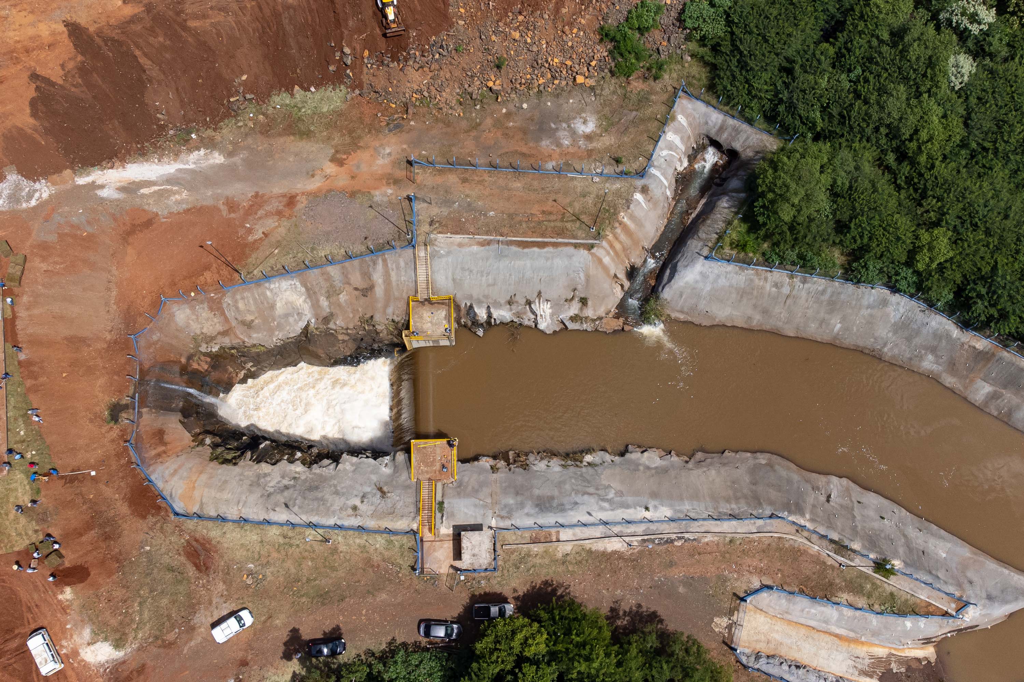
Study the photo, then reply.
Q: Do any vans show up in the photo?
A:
Yes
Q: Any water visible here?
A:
Yes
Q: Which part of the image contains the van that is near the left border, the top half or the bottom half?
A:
bottom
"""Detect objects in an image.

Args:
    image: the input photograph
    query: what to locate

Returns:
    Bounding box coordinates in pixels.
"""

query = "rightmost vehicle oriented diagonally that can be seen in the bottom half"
[210,608,257,646]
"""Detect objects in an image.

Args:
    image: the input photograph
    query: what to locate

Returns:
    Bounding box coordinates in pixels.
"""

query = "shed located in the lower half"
[461,531,494,568]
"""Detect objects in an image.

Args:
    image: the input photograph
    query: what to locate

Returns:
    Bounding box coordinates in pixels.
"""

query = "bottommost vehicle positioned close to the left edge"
[26,627,65,679]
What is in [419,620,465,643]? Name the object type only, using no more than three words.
car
